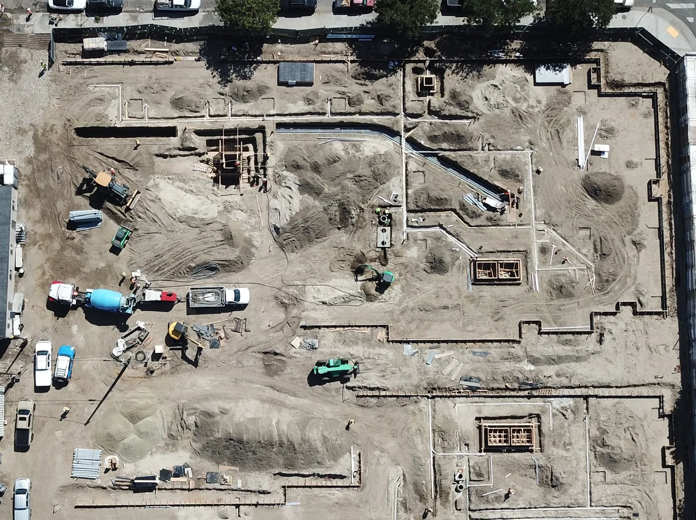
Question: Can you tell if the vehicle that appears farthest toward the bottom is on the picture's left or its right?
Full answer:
The vehicle that appears farthest toward the bottom is on the left side of the image.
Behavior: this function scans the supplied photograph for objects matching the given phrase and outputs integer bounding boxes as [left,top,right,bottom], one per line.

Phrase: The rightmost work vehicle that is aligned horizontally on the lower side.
[313,358,369,381]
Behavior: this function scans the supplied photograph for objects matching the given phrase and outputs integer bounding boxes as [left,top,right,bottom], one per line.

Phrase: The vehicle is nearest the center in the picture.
[357,260,394,289]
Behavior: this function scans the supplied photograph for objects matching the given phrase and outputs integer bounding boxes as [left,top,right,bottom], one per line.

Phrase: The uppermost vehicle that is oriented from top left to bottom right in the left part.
[79,163,133,207]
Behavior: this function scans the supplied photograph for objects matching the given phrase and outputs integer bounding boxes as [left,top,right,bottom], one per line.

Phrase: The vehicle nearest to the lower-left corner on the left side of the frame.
[13,479,34,520]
